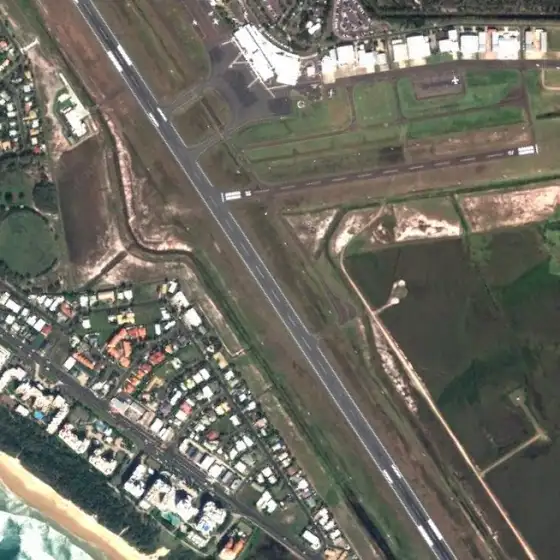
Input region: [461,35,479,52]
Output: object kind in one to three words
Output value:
hangar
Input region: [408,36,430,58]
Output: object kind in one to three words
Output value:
hangar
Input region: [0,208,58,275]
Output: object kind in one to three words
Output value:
sports field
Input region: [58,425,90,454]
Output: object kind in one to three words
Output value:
building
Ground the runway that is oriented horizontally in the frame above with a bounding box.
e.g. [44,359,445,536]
[221,145,539,201]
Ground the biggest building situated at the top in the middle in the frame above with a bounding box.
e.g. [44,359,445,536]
[234,25,299,85]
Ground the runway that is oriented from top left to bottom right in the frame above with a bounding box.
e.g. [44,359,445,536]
[73,0,457,560]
